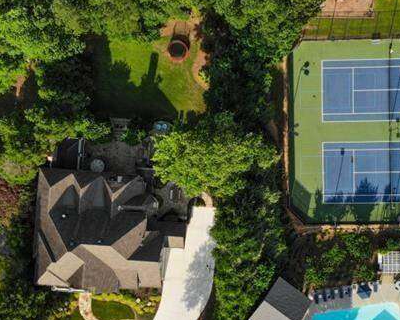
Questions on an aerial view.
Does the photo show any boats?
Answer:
No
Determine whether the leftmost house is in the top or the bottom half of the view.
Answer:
bottom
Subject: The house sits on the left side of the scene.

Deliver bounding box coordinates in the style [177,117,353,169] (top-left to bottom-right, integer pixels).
[34,138,184,293]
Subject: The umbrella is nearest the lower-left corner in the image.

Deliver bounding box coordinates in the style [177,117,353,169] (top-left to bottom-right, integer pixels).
[91,158,105,172]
